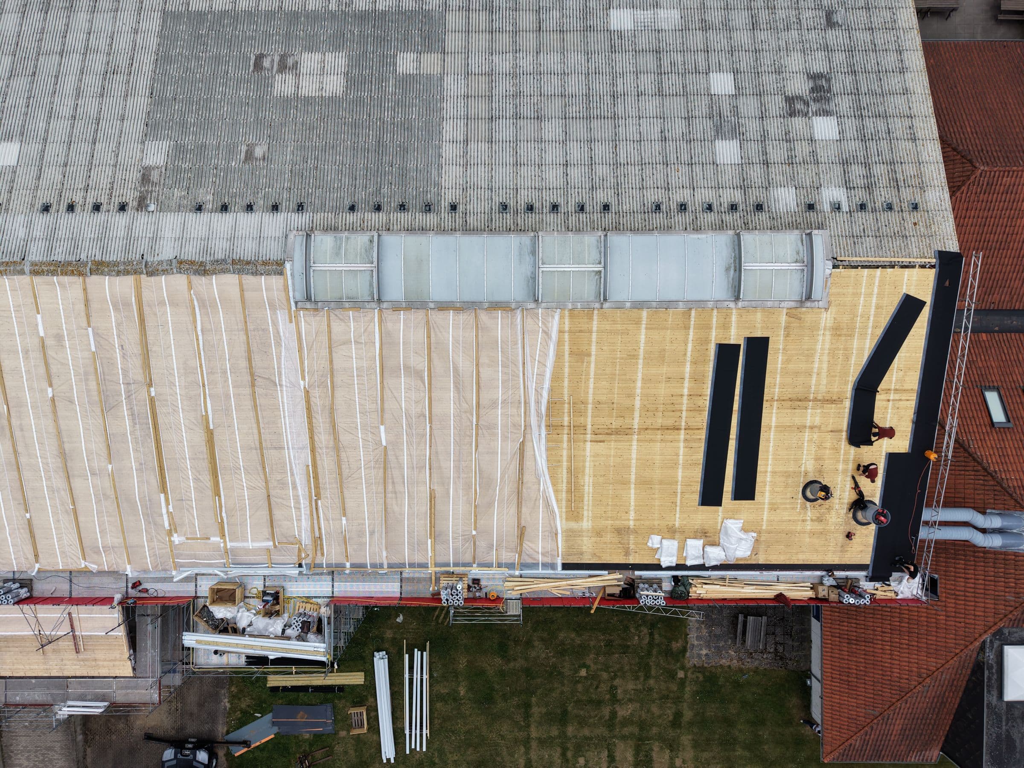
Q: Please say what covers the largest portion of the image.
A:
buildings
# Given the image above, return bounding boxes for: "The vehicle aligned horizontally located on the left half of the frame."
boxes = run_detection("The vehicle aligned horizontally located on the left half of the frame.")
[140,730,254,768]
